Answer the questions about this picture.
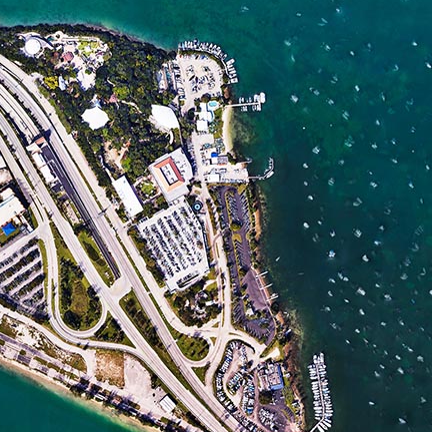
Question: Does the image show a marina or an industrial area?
marina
